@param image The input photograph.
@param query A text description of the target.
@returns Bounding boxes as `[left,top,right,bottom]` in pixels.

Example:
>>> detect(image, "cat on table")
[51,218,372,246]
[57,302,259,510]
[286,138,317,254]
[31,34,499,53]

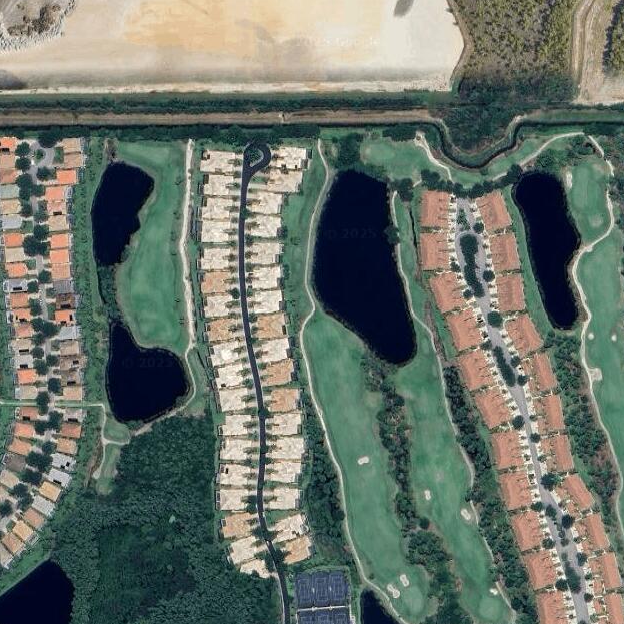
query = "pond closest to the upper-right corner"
[514,172,579,328]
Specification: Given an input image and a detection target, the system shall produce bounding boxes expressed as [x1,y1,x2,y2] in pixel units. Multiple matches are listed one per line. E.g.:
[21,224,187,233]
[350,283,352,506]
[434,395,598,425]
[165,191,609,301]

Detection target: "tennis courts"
[329,569,349,605]
[294,572,313,608]
[314,608,332,624]
[312,570,332,607]
[299,610,315,624]
[331,606,350,624]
